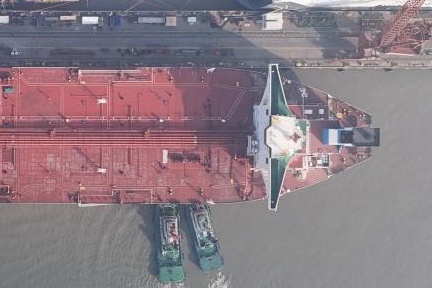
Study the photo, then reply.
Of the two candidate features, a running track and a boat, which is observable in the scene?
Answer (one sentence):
The image shows a boat.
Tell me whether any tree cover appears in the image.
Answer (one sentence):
No, tree cover can't be seen anywhere here.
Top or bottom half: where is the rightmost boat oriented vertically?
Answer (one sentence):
The rightmost boat oriented vertically is in the bottom half of the image.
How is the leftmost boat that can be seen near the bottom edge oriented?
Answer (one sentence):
I'd say the leftmost boat that can be seen near the bottom edge is aligned vertically in the picture.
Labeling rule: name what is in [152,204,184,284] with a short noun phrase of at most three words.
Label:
boat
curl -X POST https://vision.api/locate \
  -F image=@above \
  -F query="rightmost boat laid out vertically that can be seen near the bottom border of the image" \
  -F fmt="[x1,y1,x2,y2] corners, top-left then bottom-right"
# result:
[185,203,223,274]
